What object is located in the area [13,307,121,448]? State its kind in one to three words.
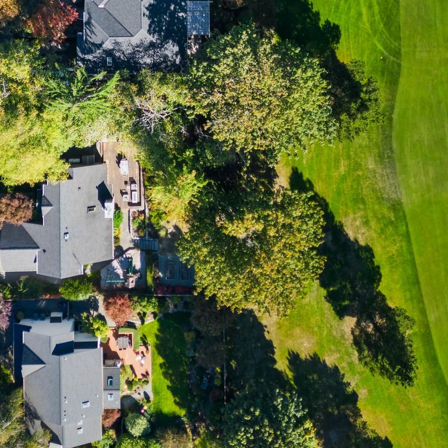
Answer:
house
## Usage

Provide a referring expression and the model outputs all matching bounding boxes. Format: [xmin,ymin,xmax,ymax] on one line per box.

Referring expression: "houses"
[13,307,121,448]
[76,0,188,74]
[0,160,116,275]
